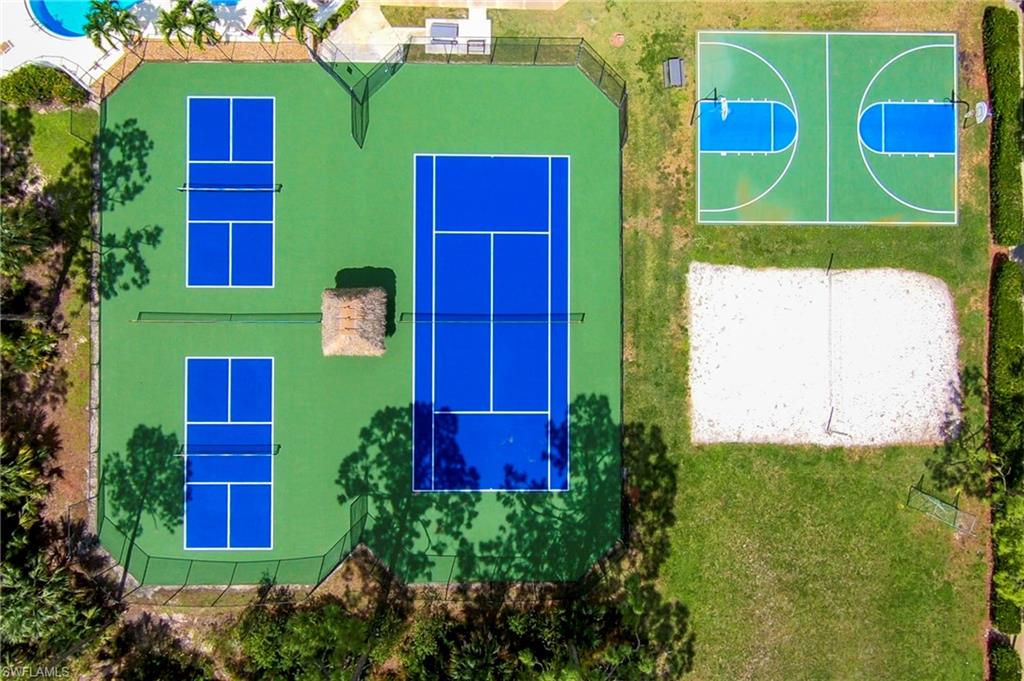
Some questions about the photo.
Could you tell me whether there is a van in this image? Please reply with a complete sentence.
No, there isn't any van down there.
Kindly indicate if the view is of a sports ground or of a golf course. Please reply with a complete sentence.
The picture captures a sports ground.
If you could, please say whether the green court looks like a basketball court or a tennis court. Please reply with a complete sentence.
The green court appears to be a basketball court.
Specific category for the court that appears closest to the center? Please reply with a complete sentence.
What you see as the court that appears closest to the center is a tennis court.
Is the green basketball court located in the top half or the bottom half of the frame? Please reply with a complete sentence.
You can find the green basketball court in the top half.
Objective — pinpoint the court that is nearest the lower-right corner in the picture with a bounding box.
[688,263,962,448]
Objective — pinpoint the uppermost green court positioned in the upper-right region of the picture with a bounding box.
[697,31,958,224]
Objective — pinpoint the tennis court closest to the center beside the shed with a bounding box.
[414,154,569,491]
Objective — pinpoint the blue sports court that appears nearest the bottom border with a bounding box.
[184,357,273,550]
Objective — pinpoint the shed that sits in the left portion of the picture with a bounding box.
[321,287,388,355]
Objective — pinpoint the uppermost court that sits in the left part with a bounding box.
[187,96,274,287]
